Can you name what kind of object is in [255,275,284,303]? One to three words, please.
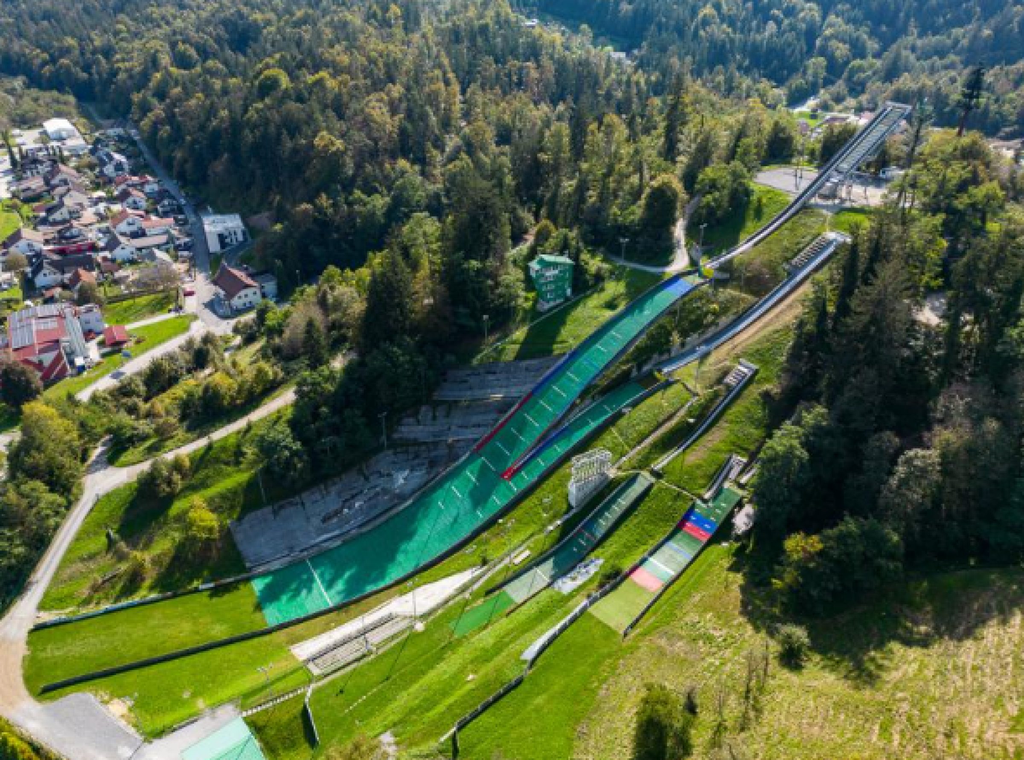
house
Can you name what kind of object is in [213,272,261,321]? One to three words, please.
house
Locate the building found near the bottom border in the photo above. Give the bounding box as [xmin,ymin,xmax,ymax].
[179,716,263,760]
